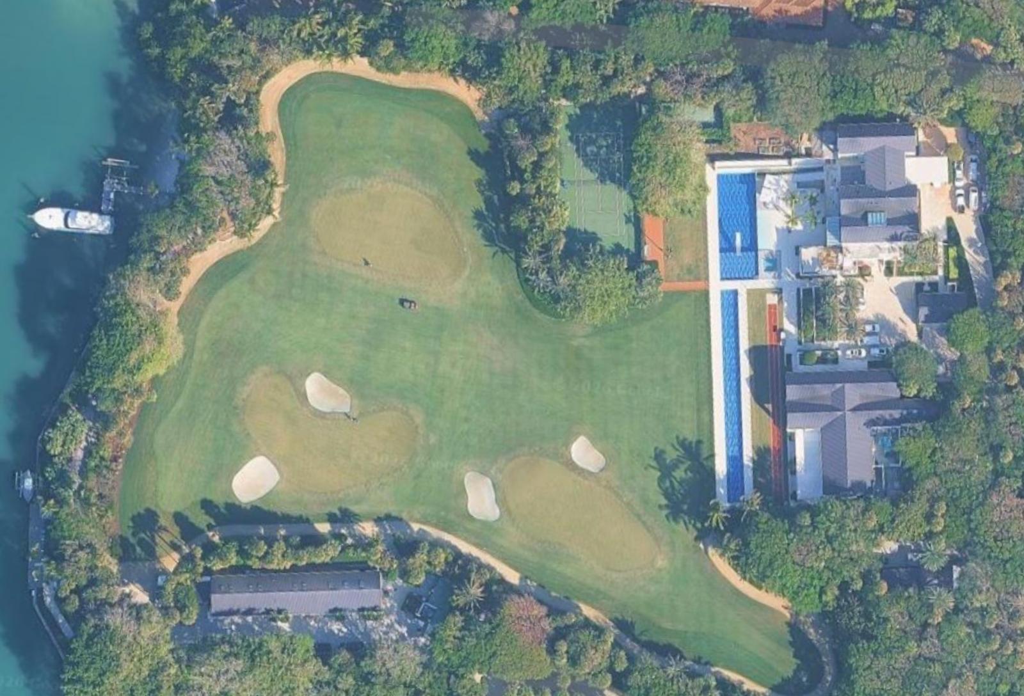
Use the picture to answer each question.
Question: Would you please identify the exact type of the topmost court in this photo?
tennis court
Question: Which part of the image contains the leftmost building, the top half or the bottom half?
bottom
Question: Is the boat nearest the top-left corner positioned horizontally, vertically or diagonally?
horizontally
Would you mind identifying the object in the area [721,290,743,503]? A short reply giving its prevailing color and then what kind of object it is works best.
blue swimming pool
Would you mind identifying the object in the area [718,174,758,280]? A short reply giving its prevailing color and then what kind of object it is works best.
blue swimming pool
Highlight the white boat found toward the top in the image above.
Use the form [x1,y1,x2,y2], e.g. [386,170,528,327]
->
[28,208,117,236]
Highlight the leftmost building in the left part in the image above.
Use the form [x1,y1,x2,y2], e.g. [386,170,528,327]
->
[209,571,381,617]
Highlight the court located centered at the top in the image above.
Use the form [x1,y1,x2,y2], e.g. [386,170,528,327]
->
[558,101,643,257]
